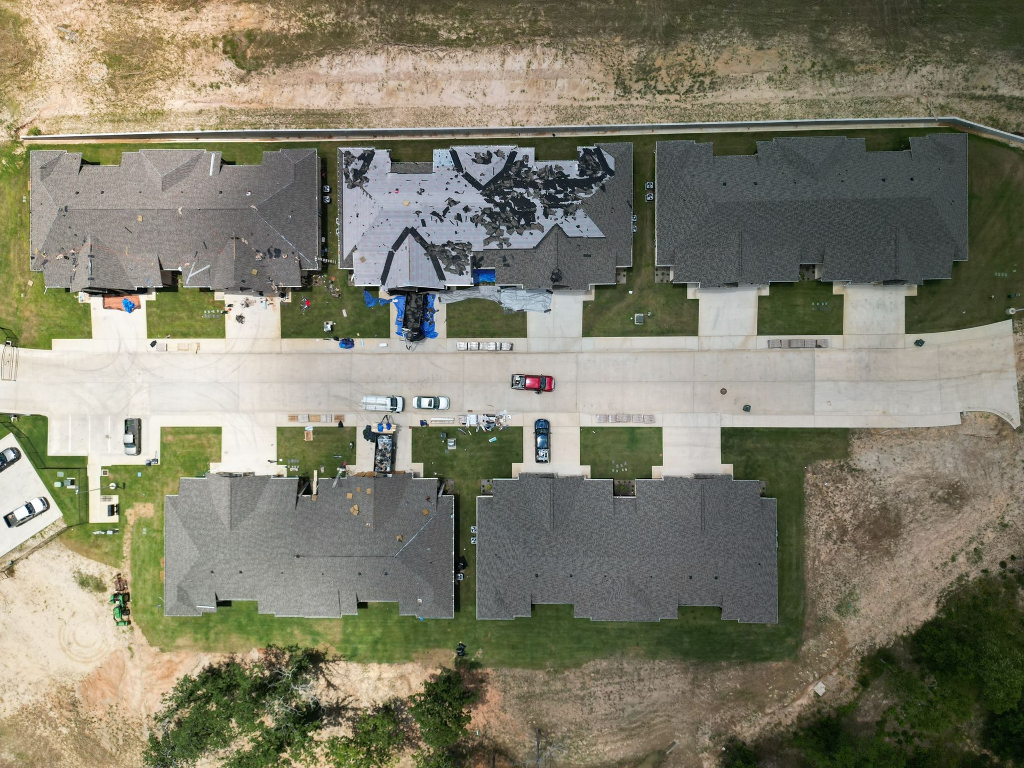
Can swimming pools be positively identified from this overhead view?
No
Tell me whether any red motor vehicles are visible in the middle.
Yes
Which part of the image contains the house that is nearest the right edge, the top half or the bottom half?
top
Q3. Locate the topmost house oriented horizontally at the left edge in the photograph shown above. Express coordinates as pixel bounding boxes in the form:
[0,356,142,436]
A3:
[30,149,320,292]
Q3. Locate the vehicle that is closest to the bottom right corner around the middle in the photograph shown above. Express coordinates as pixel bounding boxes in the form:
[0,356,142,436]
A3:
[534,418,550,463]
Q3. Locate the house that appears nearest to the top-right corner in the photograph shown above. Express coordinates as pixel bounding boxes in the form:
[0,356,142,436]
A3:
[655,133,969,288]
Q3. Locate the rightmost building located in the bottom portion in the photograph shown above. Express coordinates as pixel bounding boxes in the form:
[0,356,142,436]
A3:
[476,475,778,623]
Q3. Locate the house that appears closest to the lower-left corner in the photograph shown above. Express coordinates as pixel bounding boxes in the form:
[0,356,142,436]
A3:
[164,473,454,618]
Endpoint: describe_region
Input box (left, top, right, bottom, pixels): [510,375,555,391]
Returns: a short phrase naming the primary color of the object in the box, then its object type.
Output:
red vehicle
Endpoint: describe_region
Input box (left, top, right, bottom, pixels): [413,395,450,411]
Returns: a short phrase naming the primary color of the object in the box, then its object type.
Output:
white car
